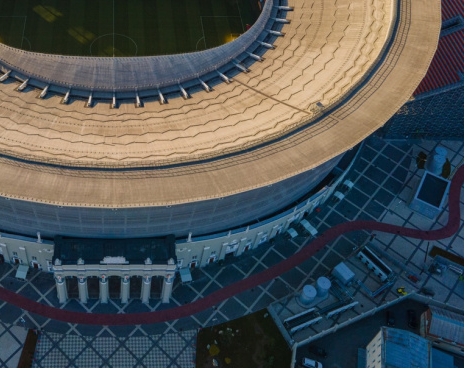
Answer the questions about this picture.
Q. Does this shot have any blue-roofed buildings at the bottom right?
Yes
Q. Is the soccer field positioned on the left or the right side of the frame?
left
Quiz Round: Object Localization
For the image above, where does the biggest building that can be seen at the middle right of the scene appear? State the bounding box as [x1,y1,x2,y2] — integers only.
[410,169,451,218]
